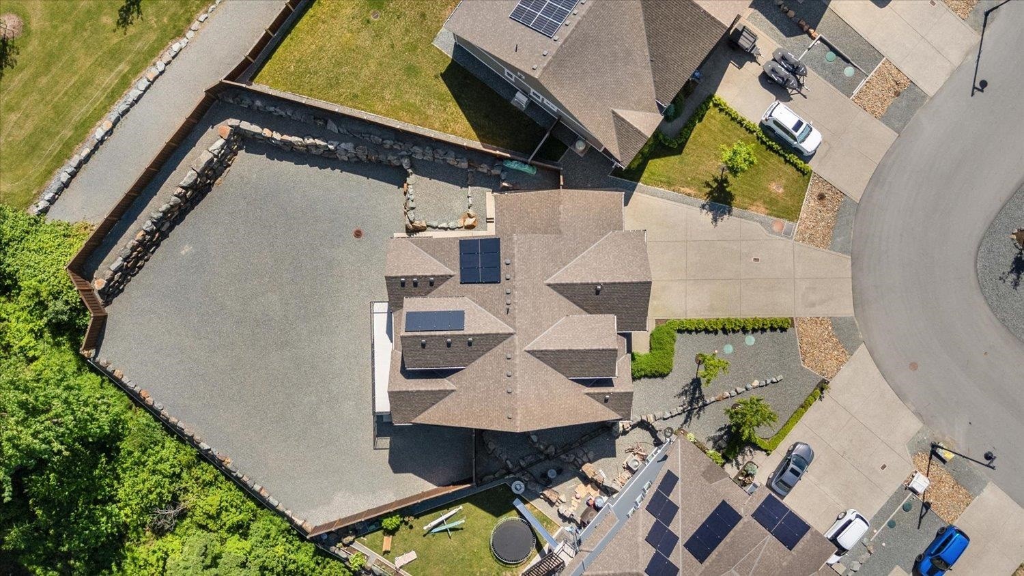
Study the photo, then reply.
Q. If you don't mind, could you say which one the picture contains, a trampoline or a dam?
trampoline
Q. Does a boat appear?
Yes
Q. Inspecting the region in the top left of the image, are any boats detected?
No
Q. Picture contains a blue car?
Yes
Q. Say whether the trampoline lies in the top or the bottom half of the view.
bottom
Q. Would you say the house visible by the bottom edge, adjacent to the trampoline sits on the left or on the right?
right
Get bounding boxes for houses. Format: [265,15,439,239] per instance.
[535,434,834,576]
[370,188,652,452]
[439,0,750,171]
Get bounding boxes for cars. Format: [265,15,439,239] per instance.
[915,532,965,576]
[769,440,814,503]
[826,508,871,564]
[762,101,821,154]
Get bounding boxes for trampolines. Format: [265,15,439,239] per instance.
[491,517,536,564]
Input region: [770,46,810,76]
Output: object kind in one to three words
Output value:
boat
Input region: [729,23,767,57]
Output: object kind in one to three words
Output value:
trailer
